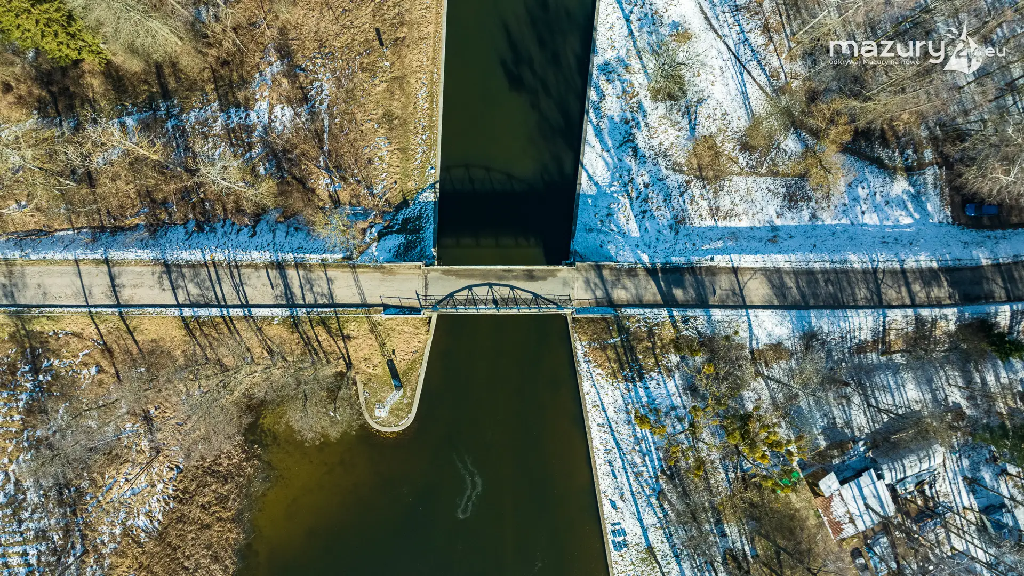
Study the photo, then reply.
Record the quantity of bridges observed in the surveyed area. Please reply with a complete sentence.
In total, 1 bridge can be seen.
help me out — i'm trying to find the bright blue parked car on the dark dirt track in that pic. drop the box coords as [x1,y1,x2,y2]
[968,201,1002,217]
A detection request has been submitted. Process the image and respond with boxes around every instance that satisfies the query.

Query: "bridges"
[381,260,615,315]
